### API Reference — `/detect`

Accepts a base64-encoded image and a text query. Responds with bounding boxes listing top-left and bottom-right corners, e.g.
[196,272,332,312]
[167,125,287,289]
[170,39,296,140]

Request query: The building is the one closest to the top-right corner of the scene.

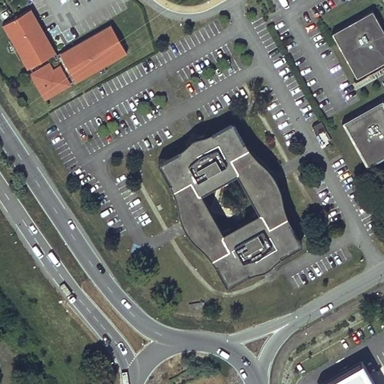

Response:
[332,13,384,81]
